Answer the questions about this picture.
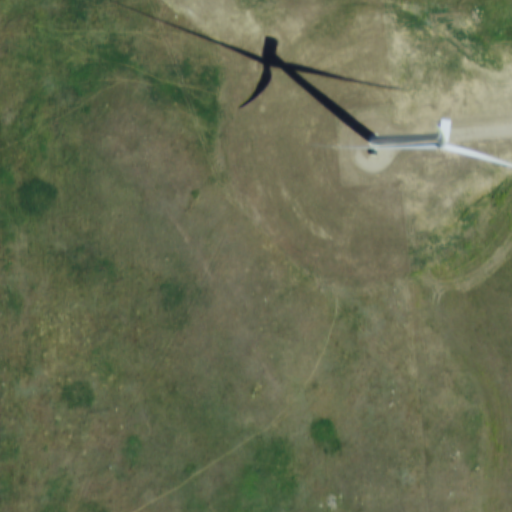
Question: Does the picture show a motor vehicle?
No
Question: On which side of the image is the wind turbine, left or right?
right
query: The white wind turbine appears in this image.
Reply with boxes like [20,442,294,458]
[320,114,512,165]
